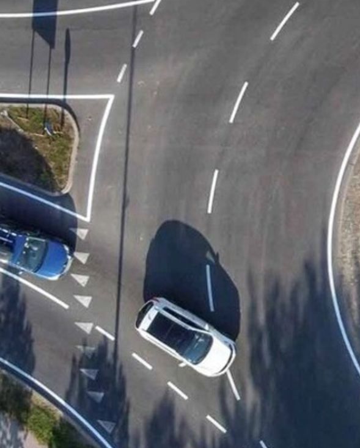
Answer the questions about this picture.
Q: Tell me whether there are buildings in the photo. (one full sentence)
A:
No, the frame has no building in it.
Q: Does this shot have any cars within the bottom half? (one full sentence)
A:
Yes, a car appears within the bottom half.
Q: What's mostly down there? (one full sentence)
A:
What you mostly see from above here is paved ground.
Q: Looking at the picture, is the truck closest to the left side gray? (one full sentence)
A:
No, from above the truck closest to the left side looks blue.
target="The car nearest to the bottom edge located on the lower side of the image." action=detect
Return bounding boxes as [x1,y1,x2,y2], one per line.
[134,297,237,374]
